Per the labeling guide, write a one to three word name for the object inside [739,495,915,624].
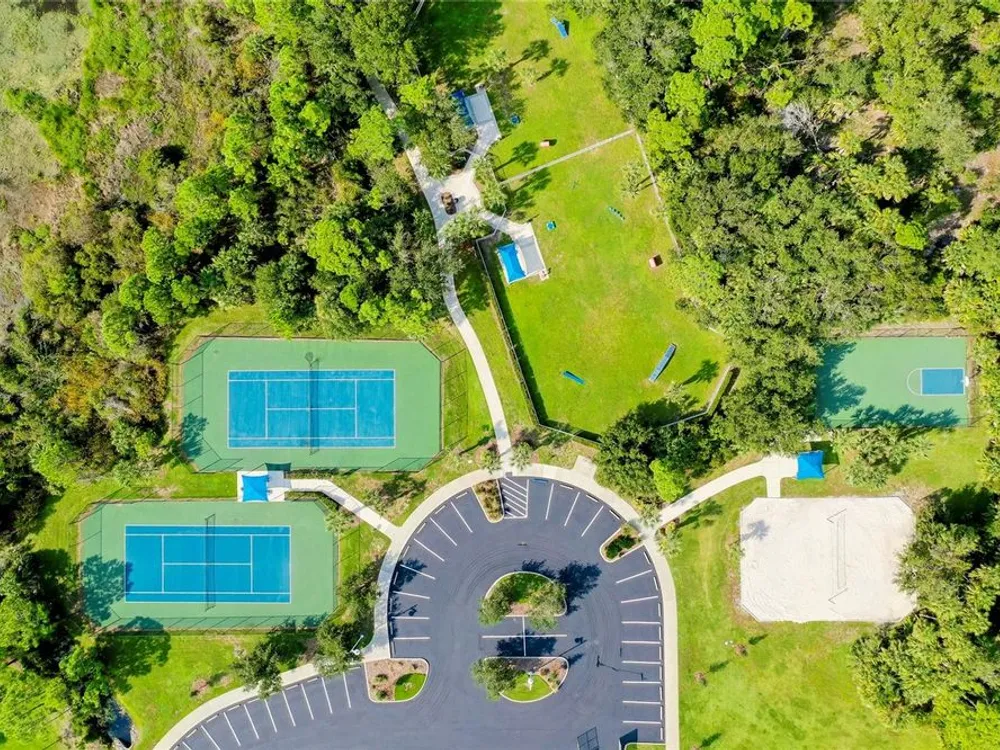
sports court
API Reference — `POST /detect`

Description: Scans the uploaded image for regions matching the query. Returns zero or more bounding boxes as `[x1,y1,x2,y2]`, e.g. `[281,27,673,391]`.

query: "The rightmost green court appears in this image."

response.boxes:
[806,337,968,427]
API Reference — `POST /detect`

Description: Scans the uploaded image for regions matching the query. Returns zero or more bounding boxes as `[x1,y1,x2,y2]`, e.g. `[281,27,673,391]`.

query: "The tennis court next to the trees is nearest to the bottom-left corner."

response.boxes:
[81,501,335,629]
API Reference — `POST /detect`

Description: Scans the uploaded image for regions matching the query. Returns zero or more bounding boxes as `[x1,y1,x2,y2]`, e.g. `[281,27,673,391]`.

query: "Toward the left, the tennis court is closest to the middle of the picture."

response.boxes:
[182,338,441,471]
